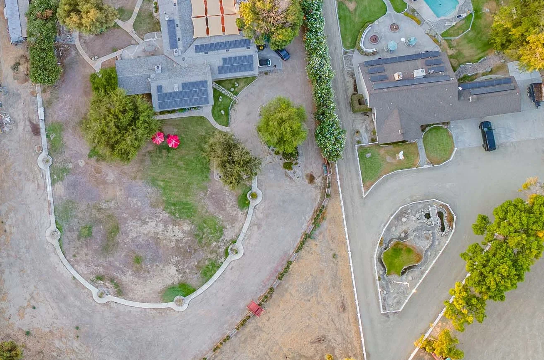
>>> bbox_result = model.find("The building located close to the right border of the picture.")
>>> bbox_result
[355,52,522,143]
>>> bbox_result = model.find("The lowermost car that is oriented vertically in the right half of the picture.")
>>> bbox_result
[479,121,497,152]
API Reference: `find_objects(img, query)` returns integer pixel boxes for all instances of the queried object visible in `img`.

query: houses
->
[355,52,522,143]
[116,0,258,112]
